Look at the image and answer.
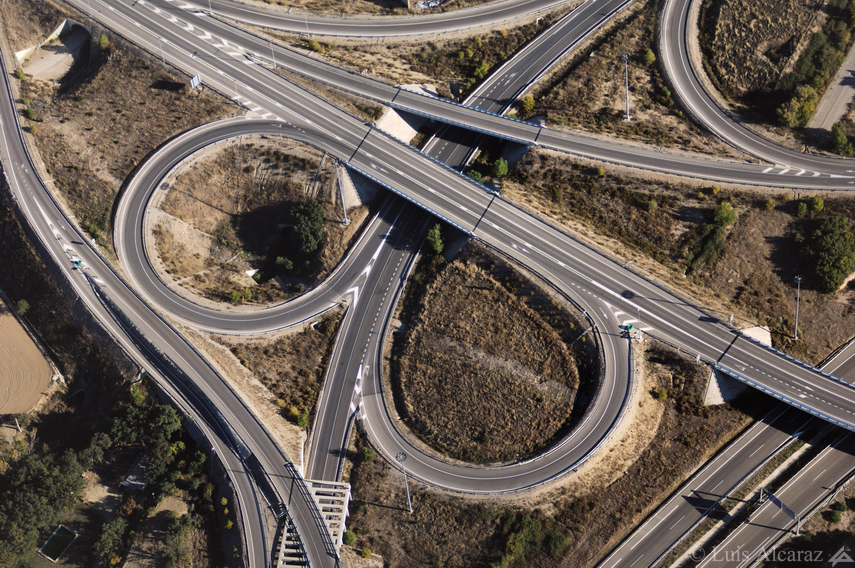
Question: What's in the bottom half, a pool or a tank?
pool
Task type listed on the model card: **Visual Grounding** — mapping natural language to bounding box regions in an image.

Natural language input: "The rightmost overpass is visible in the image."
[713,327,855,434]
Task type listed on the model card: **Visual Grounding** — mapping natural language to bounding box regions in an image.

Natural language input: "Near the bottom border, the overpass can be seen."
[271,469,341,568]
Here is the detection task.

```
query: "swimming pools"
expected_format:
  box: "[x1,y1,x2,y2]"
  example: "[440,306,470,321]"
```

[39,525,78,562]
